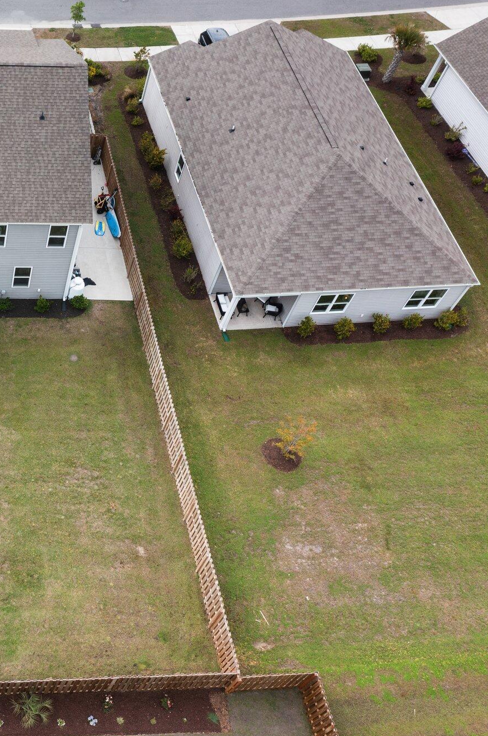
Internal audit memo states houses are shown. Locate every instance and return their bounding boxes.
[140,22,480,330]
[421,16,488,167]
[0,29,97,301]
